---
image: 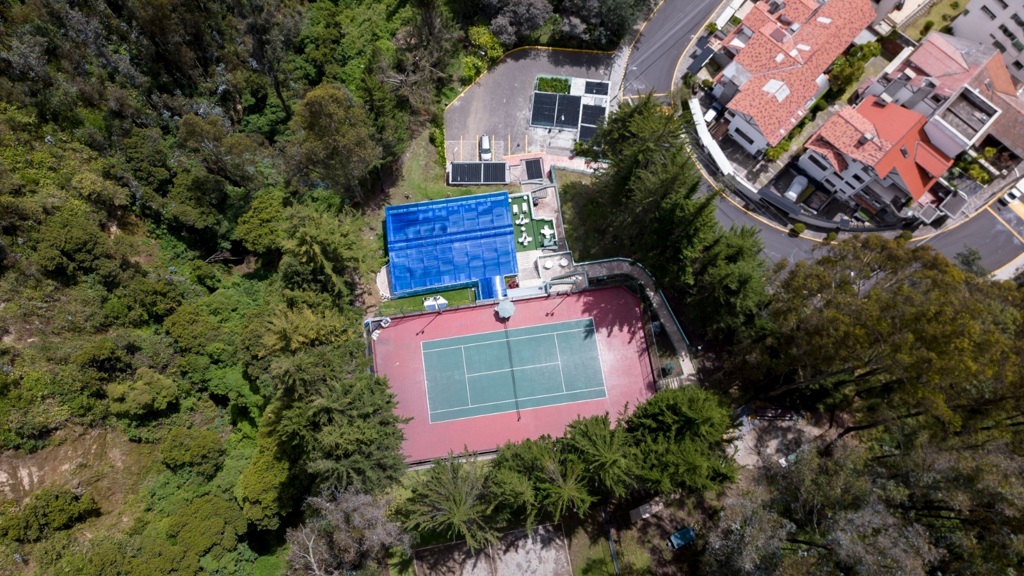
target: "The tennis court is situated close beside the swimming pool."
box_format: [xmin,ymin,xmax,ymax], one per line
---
[373,290,657,465]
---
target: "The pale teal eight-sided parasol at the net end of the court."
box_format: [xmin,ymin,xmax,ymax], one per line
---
[495,300,516,321]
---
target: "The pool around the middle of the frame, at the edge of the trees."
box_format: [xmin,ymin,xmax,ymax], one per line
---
[389,199,513,289]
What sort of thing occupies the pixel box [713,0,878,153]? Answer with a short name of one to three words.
house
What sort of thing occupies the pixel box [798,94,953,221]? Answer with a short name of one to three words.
house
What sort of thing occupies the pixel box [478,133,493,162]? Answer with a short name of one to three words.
car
